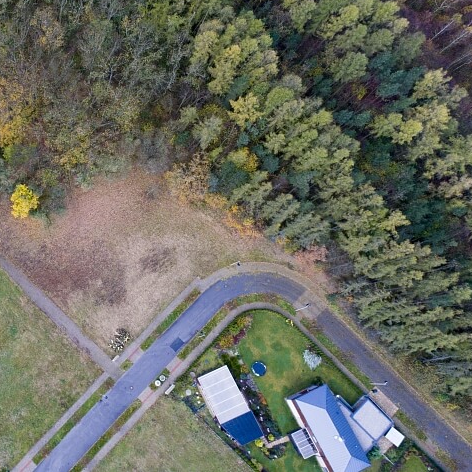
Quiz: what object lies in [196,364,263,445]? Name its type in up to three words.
shed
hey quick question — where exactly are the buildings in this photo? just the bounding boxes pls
[285,383,376,472]
[196,364,263,445]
